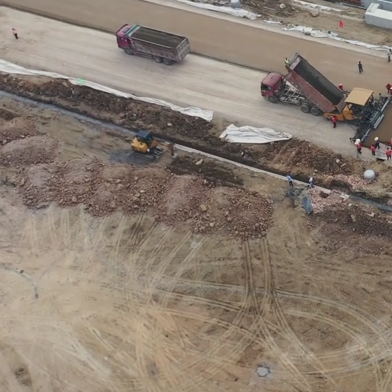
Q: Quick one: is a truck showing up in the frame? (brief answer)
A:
Yes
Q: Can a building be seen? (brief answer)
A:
No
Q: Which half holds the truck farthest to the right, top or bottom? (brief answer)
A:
top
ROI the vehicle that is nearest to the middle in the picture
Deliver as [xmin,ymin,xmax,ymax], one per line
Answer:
[129,129,172,160]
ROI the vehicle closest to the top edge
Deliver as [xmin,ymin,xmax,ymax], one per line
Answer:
[112,21,188,64]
